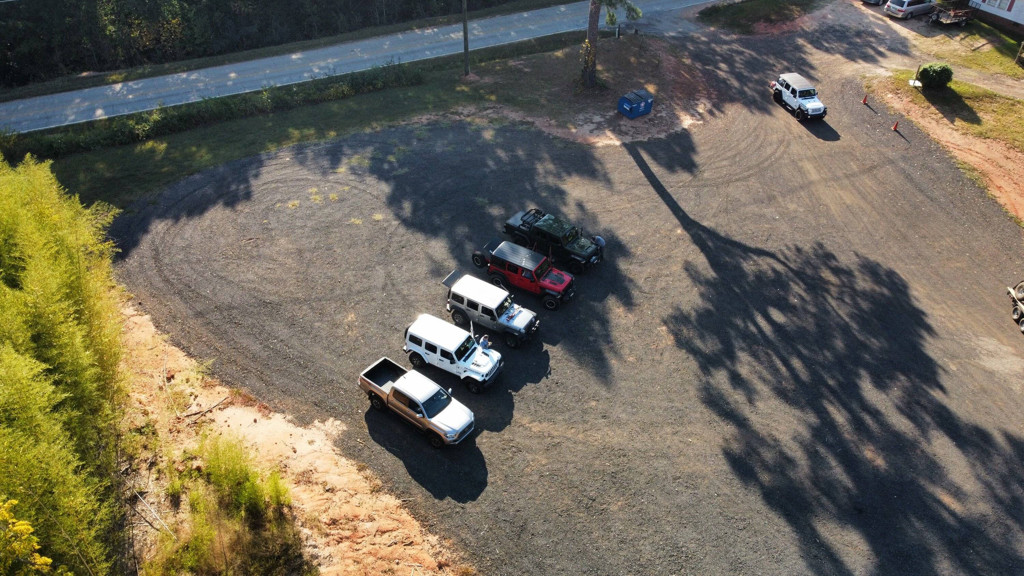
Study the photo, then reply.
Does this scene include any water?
No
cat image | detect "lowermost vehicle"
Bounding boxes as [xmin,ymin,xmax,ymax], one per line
[354,353,482,451]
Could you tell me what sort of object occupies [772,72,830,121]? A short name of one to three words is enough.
car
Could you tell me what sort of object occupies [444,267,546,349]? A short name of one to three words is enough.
car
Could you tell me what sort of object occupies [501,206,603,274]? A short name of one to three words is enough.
truck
